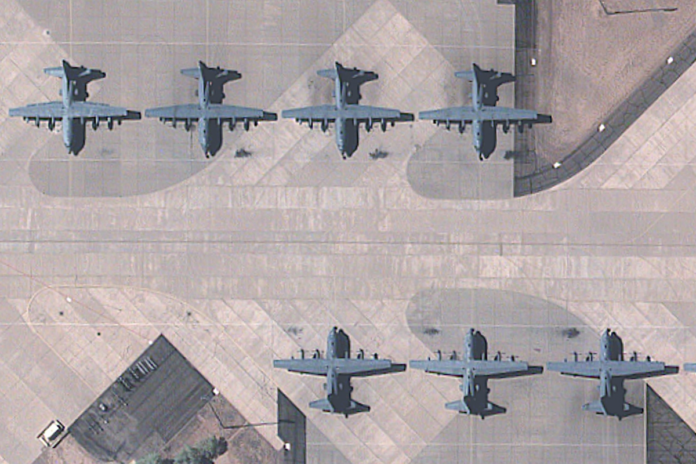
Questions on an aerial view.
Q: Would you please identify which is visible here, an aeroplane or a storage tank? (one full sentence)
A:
I can see an aeroplane in this picture.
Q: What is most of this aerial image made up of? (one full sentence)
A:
The bulk of the photo consists of paved ground.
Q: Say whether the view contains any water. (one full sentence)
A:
No, water can't be seen anywhere here.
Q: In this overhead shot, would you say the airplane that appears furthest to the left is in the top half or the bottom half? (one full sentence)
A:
Seen from above, the airplane that appears furthest to the left lies in the top half of the view.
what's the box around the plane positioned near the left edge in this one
[10,60,127,153]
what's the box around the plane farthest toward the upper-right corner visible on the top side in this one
[419,63,538,156]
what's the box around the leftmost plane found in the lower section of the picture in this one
[273,327,392,414]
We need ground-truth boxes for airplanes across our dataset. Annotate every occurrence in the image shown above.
[683,363,696,372]
[283,61,400,154]
[419,63,538,156]
[409,328,529,414]
[145,62,264,154]
[10,60,127,153]
[546,329,666,416]
[273,327,392,414]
